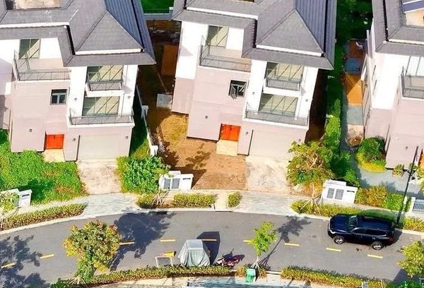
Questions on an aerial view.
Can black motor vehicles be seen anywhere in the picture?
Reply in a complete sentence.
Yes, you can see a black motor vehicle in this photo.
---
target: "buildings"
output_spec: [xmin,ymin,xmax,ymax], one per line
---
[360,0,424,169]
[172,0,338,159]
[0,0,157,163]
